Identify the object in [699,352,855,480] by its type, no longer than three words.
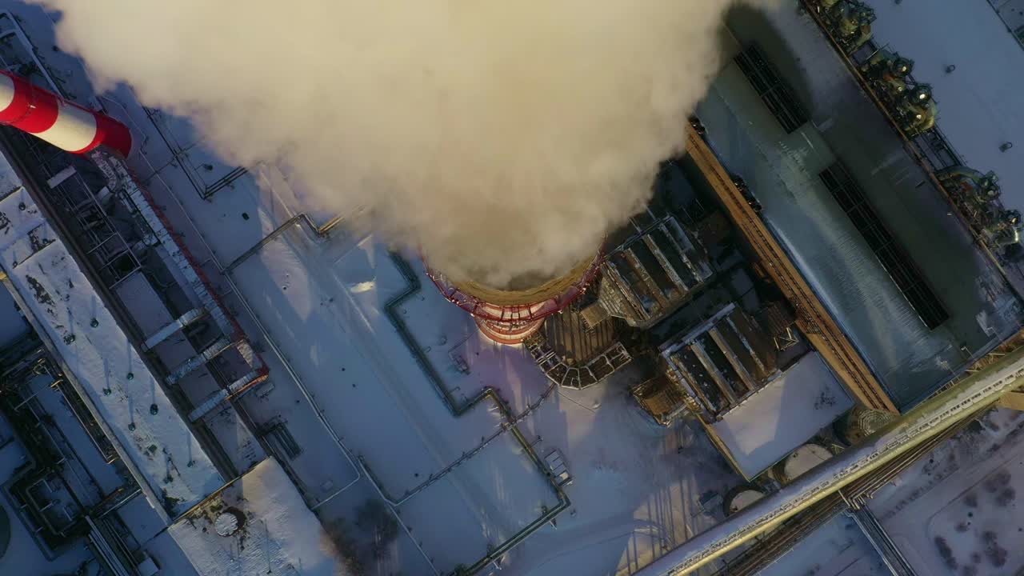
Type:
building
